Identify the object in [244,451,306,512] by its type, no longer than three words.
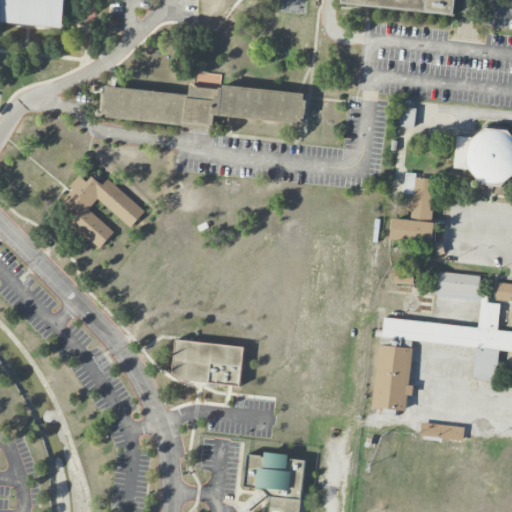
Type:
building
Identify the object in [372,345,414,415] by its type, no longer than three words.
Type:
building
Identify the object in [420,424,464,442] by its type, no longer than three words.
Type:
shed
